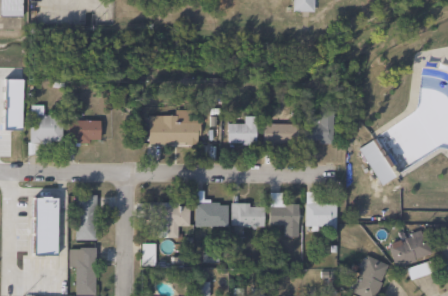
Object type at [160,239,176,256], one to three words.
swimming pool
